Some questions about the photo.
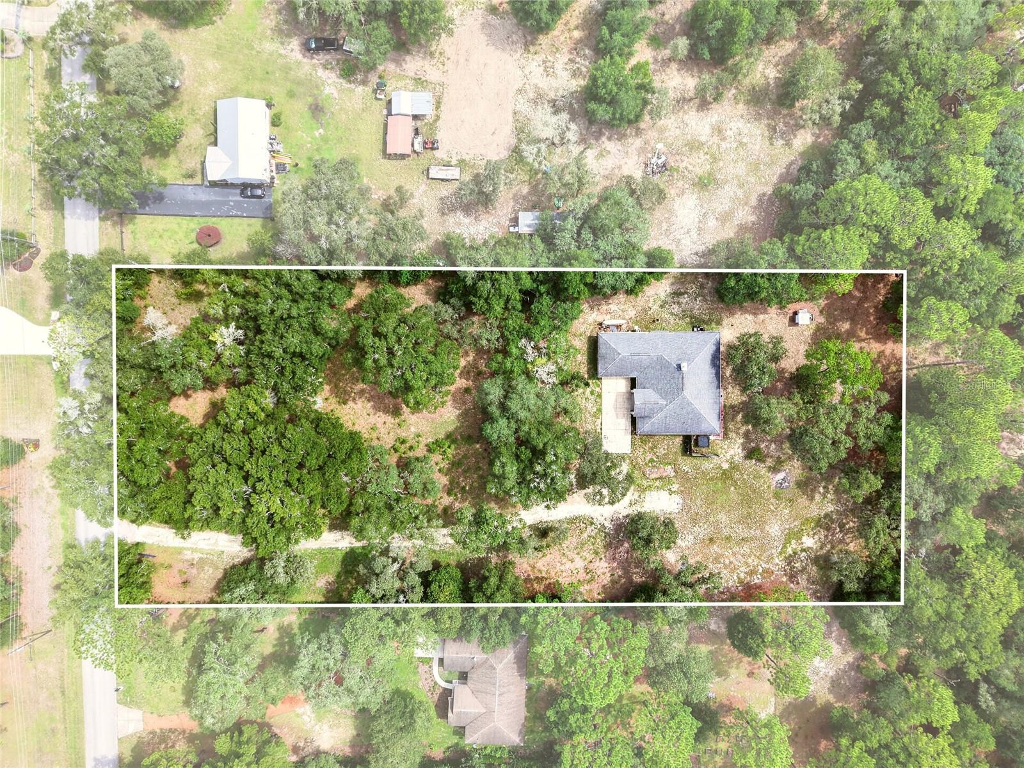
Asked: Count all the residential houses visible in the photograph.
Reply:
3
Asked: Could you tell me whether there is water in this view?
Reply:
No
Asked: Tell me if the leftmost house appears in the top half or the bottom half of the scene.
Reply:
top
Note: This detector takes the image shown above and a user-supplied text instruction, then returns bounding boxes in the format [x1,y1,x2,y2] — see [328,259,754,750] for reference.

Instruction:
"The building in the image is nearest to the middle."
[598,330,722,435]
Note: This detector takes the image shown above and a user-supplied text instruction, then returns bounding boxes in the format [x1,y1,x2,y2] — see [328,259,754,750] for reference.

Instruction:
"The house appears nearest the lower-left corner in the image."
[442,632,526,745]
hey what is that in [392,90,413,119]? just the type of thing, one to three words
shed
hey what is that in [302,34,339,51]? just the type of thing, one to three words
vehicle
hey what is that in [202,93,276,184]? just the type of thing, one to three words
house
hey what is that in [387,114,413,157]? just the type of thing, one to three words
shed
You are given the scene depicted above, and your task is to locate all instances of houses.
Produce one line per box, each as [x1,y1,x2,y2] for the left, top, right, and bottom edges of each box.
[598,330,722,435]
[202,93,276,184]
[442,632,526,745]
